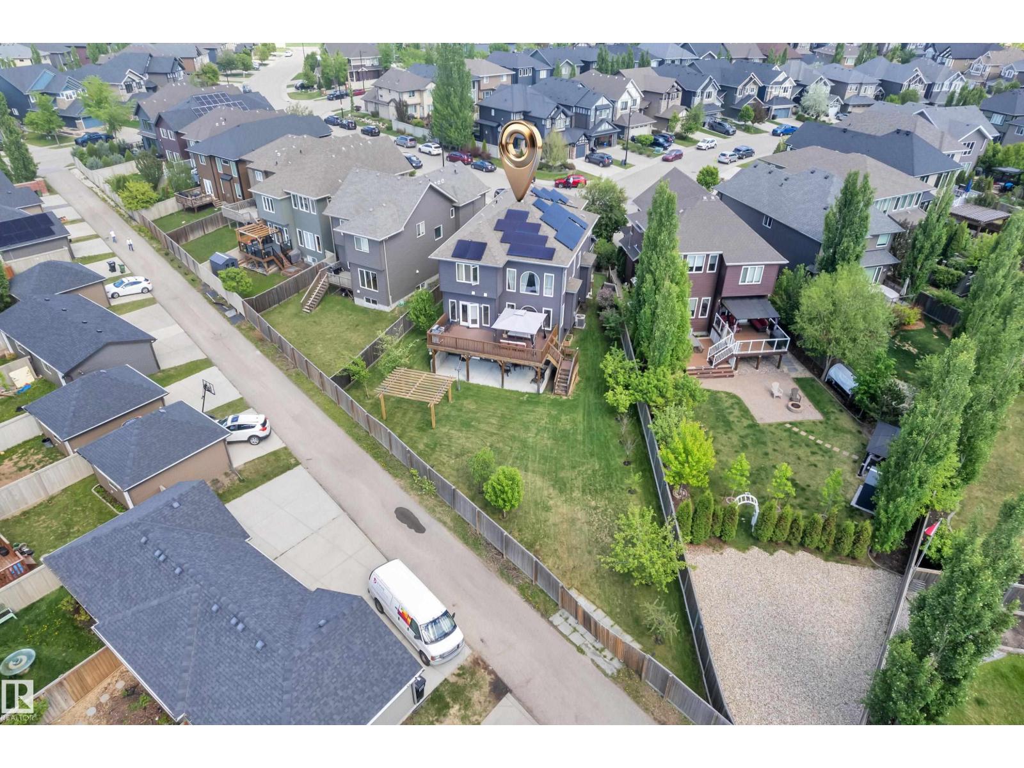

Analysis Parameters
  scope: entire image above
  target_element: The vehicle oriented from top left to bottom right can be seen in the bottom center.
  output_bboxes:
[369,560,472,676]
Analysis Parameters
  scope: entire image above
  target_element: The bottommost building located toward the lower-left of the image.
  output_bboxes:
[41,480,423,768]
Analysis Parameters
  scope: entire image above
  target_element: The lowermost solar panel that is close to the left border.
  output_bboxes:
[0,213,55,248]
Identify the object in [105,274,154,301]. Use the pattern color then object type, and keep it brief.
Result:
white car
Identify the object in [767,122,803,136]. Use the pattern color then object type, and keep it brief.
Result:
blue vehicle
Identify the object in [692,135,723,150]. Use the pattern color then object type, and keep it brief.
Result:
white car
